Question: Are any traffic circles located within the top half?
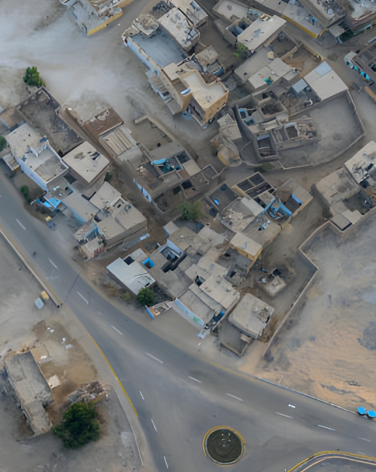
No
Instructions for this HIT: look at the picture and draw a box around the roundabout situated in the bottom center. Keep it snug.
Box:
[204,426,244,464]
